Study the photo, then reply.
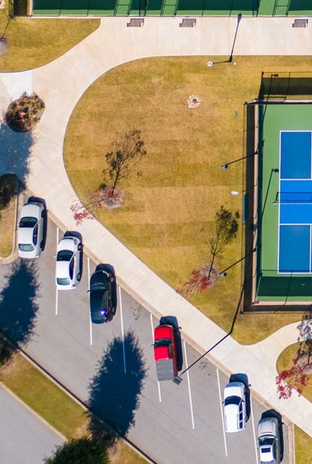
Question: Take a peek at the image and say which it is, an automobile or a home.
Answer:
automobile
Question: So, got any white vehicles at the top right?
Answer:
No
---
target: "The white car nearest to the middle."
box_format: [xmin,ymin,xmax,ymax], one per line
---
[53,237,84,290]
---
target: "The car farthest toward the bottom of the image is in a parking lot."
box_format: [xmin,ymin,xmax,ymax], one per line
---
[255,416,282,464]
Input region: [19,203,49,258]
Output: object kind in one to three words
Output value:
car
